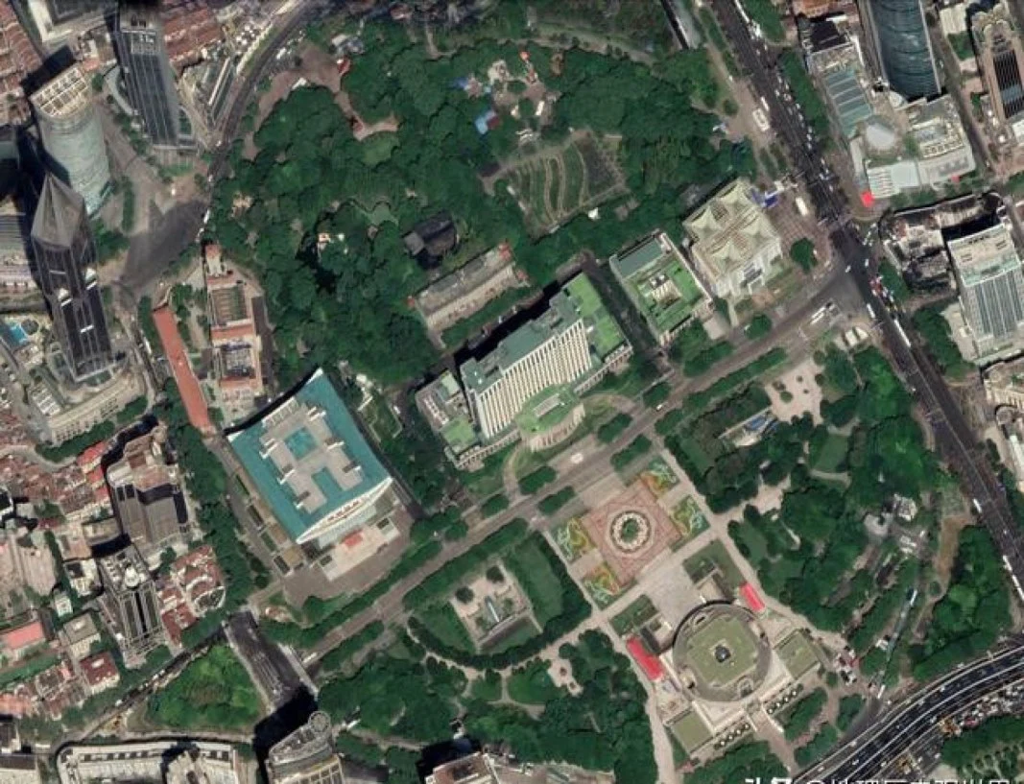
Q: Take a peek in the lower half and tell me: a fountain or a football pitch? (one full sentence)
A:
It is a fountain that can be seen in the lower half.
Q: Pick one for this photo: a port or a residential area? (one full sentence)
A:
It's a residential area.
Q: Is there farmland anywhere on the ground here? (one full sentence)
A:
No, there's no farmland in this view.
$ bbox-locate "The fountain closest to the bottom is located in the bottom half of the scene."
[584,482,679,582]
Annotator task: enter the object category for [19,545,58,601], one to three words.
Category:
shed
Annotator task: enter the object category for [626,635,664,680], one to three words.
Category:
tent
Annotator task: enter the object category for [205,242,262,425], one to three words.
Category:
building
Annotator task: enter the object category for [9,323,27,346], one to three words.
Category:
swimming pool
